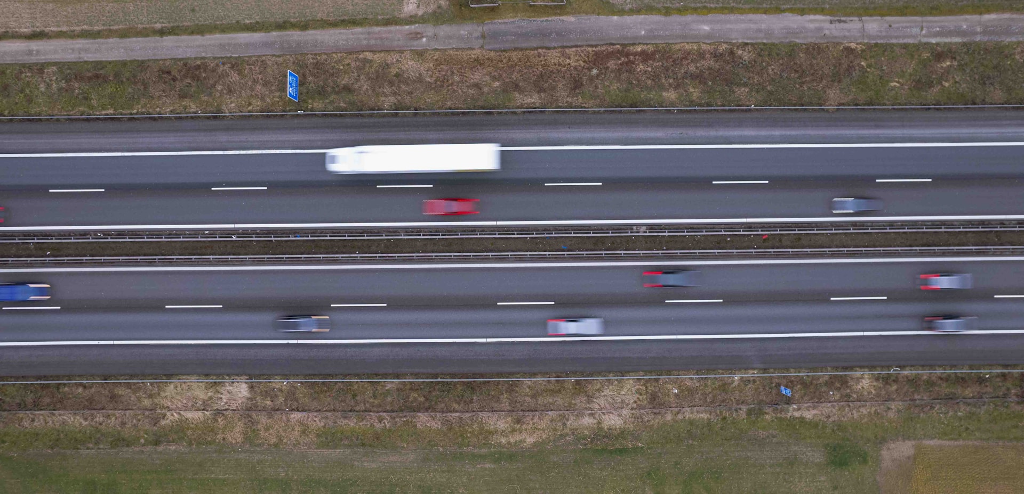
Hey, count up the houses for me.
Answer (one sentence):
The picture shows no houses.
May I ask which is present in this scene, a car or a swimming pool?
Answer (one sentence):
This aerial view contains a car.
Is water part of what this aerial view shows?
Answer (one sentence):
No, the picture contains no water.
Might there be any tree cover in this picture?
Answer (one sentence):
No, the picture contains no tree cover.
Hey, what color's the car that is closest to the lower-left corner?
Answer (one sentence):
The color of the car that is closest to the lower-left corner is blue.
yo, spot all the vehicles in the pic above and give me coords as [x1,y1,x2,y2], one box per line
[428,197,475,216]
[646,269,694,289]
[327,144,500,175]
[0,282,51,302]
[920,272,968,291]
[280,315,328,334]
[925,314,973,333]
[831,195,879,214]
[552,317,600,336]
